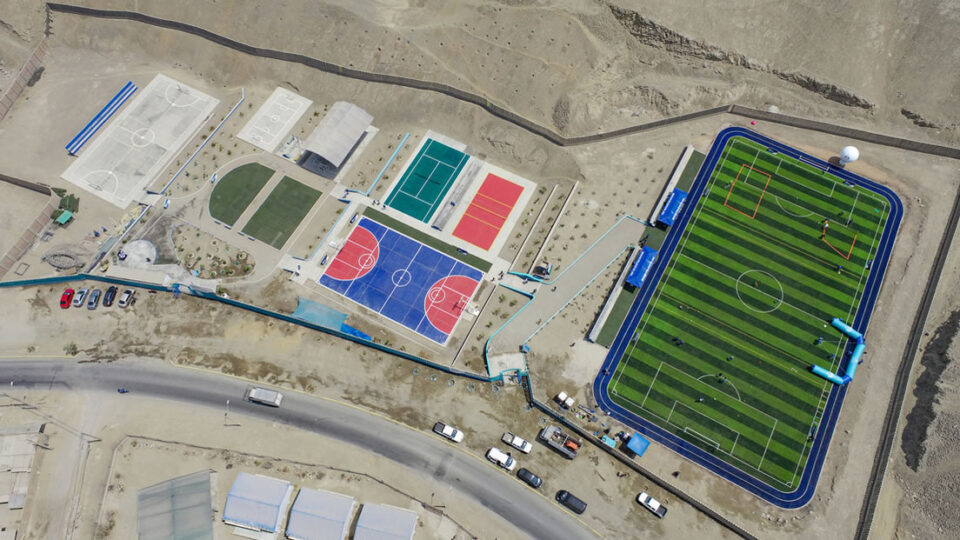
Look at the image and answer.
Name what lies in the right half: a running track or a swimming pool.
running track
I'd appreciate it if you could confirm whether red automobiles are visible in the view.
Yes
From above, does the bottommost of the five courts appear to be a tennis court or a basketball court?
basketball court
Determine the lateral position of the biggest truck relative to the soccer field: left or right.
to the left of it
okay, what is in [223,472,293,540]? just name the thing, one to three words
shed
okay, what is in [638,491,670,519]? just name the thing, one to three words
truck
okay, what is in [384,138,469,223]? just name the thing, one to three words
tennis court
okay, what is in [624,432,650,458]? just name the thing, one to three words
tent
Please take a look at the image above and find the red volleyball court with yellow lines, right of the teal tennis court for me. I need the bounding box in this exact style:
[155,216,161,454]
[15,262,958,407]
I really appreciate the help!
[453,173,524,251]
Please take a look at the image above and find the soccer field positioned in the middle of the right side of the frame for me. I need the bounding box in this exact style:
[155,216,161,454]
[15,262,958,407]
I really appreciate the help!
[608,136,892,493]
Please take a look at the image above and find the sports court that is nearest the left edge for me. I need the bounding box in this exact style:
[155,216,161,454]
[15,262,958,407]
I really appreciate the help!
[60,73,220,209]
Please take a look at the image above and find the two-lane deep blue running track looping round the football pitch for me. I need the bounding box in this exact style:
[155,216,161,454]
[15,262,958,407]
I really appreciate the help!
[594,127,904,509]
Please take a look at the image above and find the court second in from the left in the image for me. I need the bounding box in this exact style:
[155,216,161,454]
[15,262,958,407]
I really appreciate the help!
[237,87,312,153]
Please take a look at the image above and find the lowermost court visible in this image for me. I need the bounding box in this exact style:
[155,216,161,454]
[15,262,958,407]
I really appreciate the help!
[317,216,485,345]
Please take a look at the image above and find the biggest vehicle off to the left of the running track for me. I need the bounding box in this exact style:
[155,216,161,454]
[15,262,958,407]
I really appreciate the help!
[538,428,585,465]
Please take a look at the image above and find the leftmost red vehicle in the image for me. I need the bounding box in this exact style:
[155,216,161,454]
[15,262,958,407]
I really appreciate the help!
[56,287,75,308]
